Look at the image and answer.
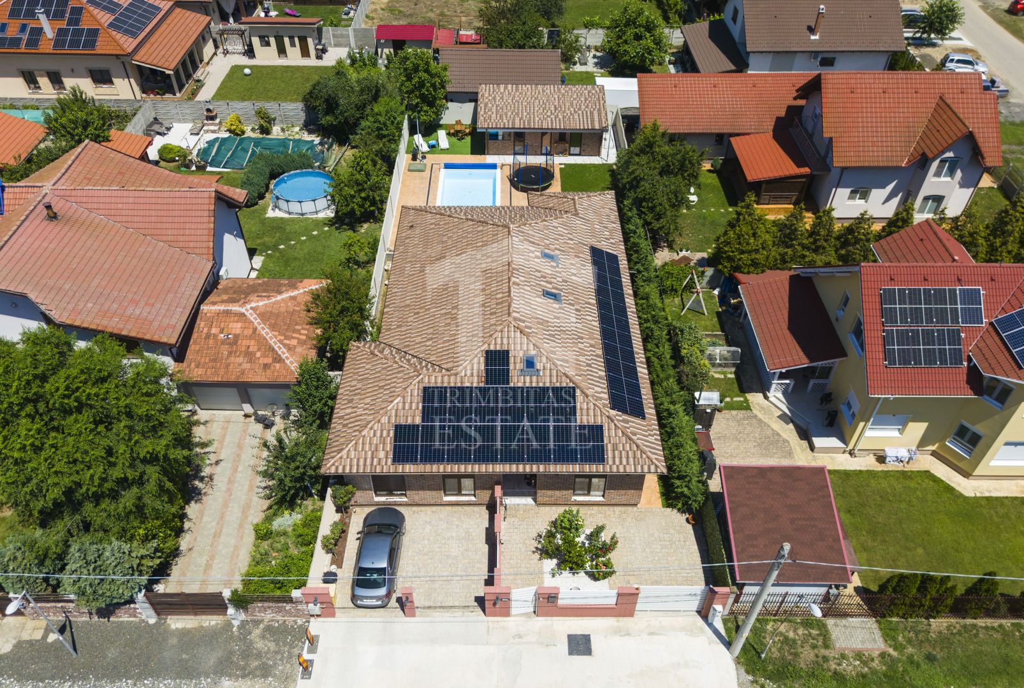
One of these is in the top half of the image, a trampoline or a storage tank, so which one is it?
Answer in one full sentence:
There is a trampoline in the top half of the image.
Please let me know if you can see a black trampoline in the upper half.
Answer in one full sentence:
Yes, the scene does show a black trampoline in the upper half.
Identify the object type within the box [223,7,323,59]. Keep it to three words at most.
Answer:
shed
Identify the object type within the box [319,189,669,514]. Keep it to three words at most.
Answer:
house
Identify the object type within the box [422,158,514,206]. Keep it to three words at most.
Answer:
swimming pool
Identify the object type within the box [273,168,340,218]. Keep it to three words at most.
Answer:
swimming pool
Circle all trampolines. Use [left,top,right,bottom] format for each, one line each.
[509,140,554,190]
